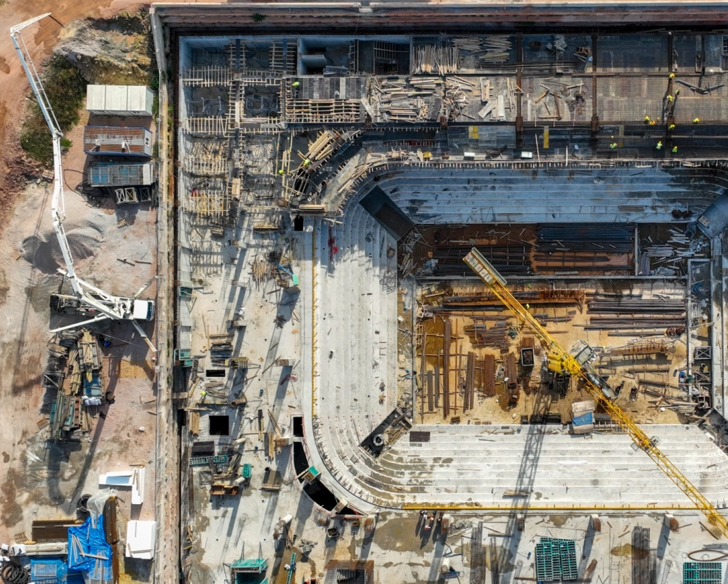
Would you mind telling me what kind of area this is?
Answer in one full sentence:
It's a sports ground.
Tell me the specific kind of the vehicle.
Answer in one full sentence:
The vehicle in the image is a truck.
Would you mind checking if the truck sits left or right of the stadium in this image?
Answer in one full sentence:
Relative to the stadium, the truck lies to the left.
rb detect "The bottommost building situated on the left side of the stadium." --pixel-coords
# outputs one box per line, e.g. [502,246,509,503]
[87,162,159,188]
